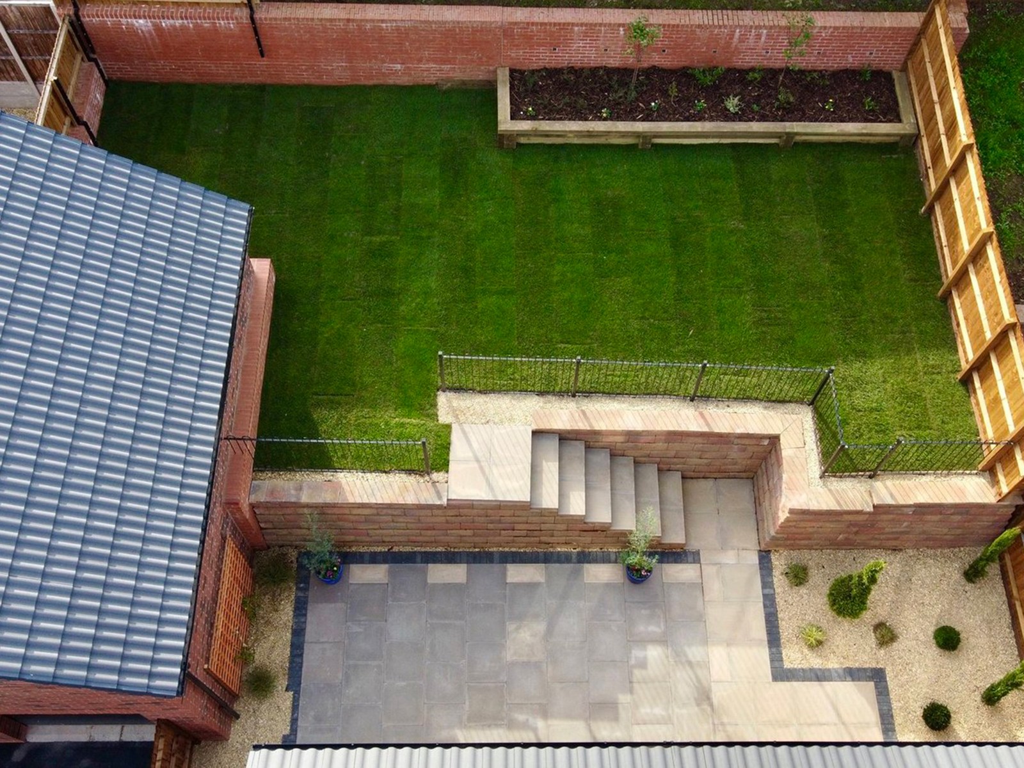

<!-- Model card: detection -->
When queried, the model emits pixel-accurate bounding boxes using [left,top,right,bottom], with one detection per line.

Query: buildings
[251,735,1024,768]
[0,117,259,741]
